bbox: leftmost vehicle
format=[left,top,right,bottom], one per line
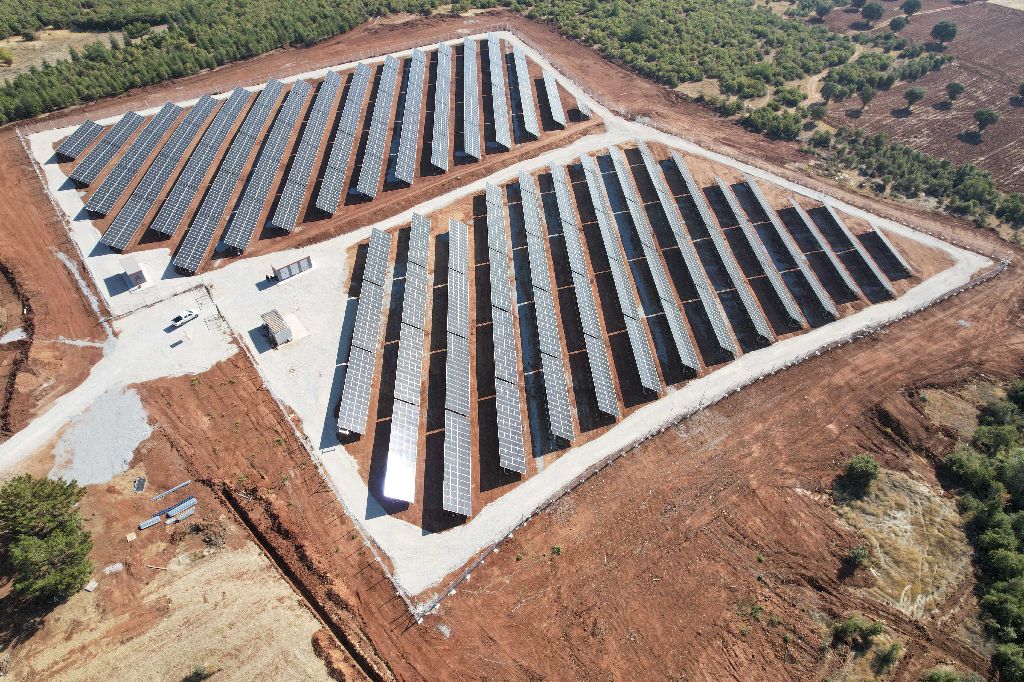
[171,308,200,326]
